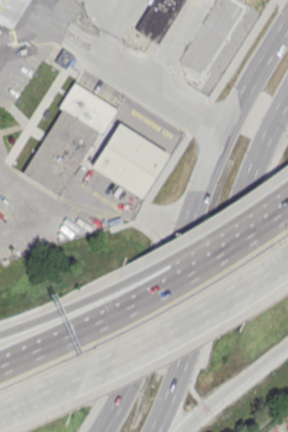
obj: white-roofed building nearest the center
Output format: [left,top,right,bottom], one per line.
[92,122,169,200]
